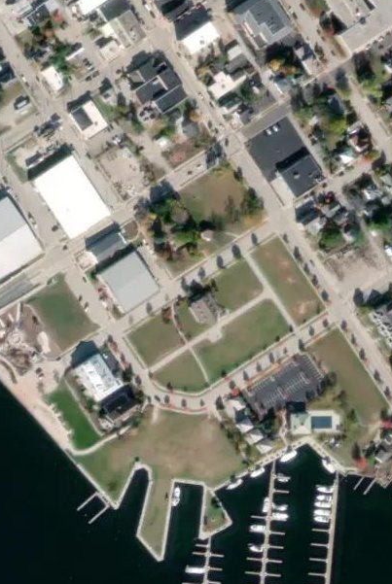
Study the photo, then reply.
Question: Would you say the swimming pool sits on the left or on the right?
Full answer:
The swimming pool appears in the right half of the scene.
